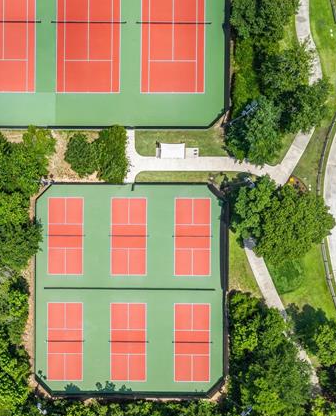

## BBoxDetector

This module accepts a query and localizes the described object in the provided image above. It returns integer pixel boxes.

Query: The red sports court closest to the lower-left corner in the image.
[47,302,83,381]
